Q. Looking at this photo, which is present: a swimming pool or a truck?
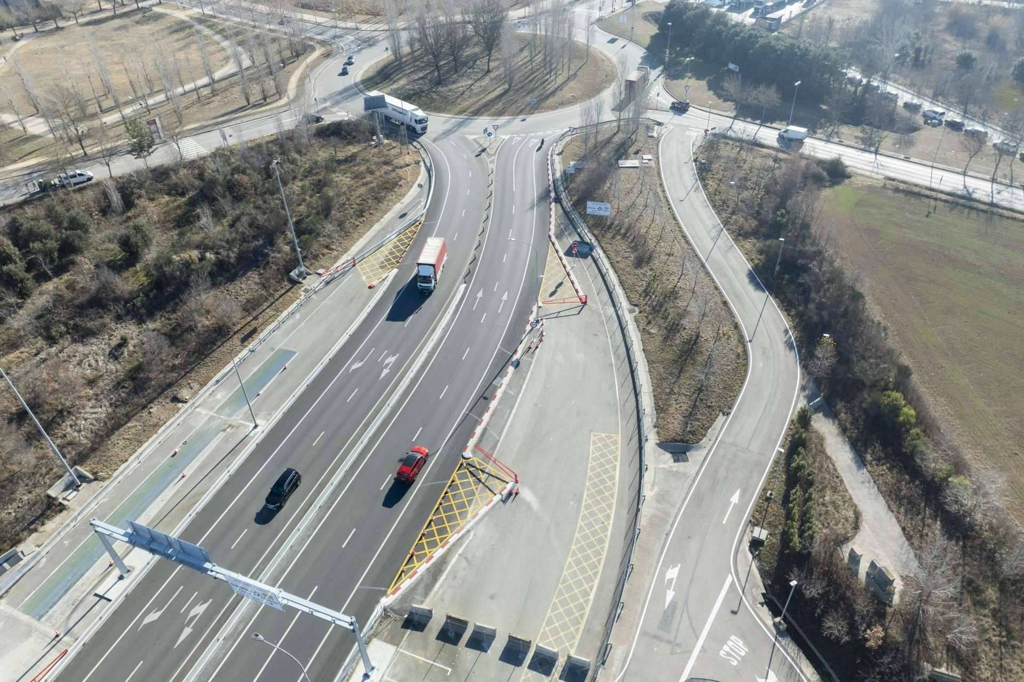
truck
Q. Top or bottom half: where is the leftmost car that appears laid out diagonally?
bottom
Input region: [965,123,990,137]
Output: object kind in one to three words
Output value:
car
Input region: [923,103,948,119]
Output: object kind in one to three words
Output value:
vehicle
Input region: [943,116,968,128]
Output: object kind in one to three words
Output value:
vehicle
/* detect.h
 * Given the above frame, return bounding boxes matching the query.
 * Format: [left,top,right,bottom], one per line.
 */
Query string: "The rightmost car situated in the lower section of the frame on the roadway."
[393,449,425,484]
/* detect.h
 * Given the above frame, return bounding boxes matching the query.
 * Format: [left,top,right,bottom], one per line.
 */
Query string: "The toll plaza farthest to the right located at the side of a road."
[340,148,641,682]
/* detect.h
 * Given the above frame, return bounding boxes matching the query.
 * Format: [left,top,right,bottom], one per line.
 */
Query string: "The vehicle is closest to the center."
[414,236,449,293]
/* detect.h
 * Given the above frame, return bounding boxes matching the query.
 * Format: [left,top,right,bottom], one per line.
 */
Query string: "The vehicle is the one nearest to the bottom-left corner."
[263,468,301,509]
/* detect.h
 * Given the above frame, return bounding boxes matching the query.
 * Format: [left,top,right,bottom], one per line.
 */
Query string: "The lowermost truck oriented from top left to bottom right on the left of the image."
[369,90,429,130]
